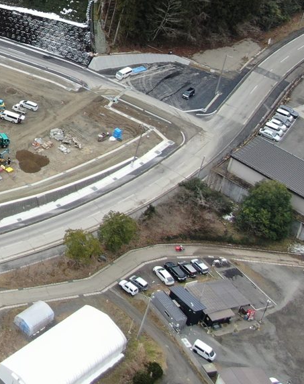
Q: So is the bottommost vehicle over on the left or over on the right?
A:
right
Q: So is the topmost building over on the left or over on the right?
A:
right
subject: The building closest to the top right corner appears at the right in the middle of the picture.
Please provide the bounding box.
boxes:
[229,136,304,214]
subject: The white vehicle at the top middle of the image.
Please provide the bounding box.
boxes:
[116,65,132,77]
